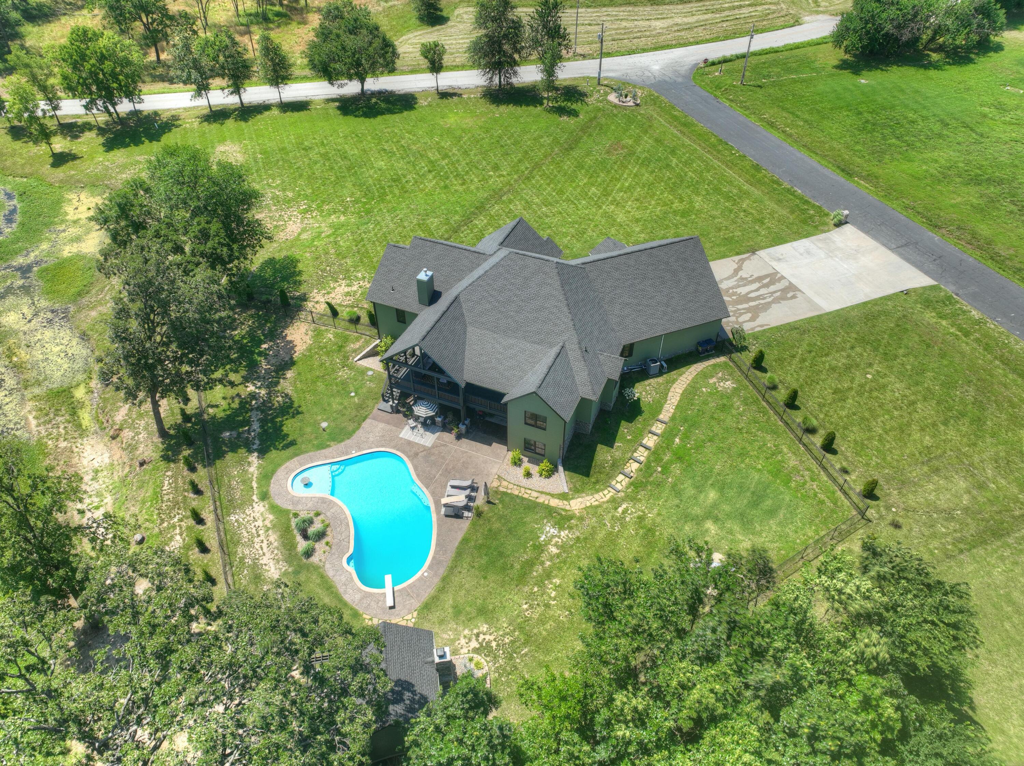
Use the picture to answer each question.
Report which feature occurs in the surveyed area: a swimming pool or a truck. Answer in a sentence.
The one in the frame is a swimming pool.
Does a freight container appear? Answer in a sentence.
No, the scene contains no freight container.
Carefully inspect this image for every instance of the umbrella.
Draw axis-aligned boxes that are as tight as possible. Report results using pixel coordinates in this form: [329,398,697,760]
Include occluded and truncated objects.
[482,479,494,506]
[413,400,439,418]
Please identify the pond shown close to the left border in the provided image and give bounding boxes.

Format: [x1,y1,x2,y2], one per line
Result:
[0,179,106,453]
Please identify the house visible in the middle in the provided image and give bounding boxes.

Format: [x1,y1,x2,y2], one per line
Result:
[364,218,731,466]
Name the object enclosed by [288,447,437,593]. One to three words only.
swimming pool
